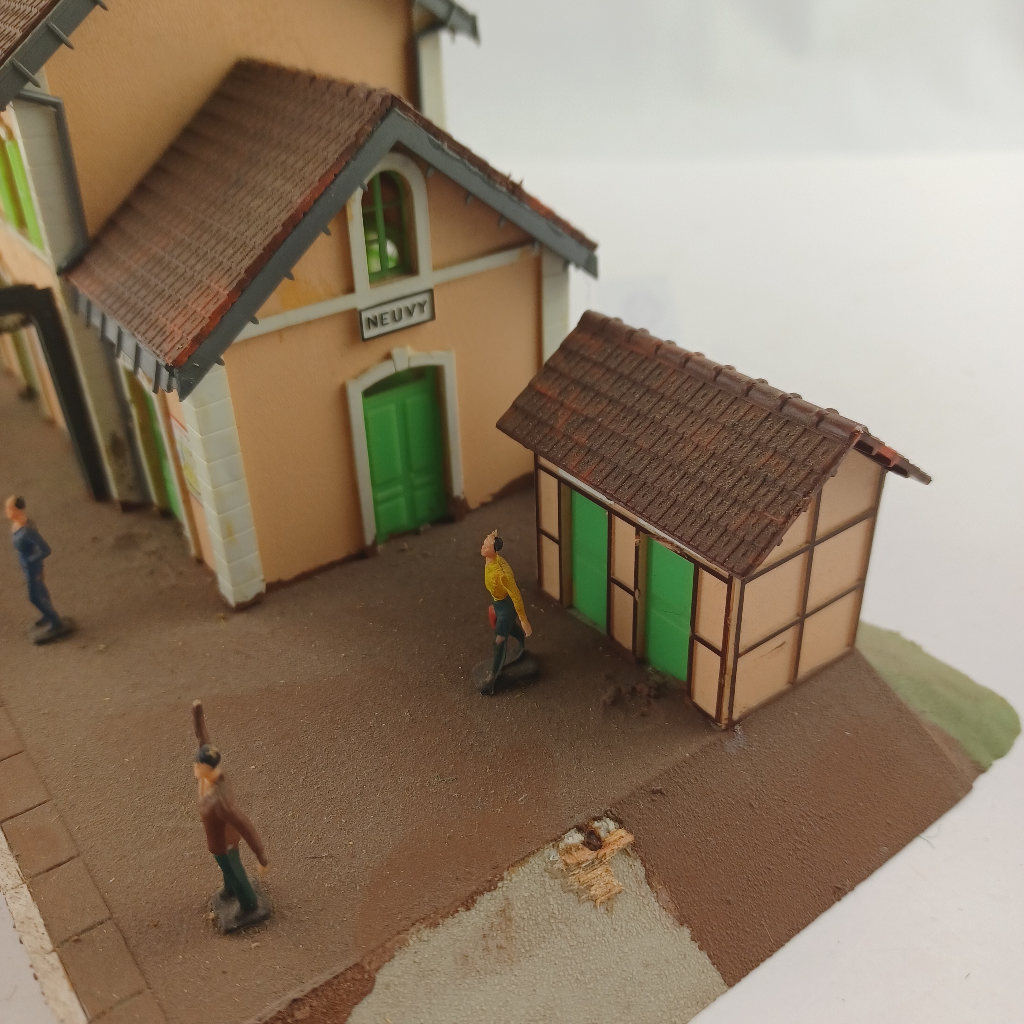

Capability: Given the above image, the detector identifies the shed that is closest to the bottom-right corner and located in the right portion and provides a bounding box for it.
[494,305,931,728]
